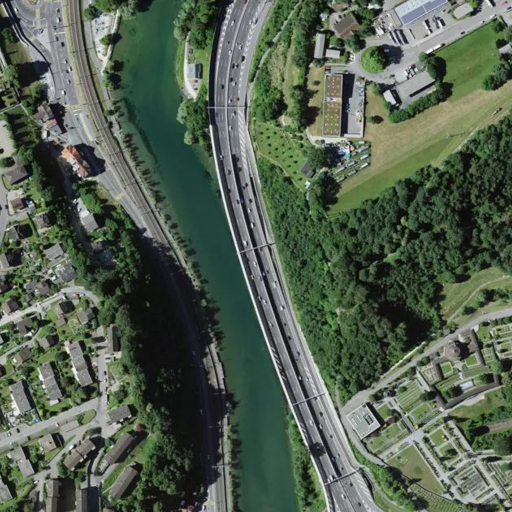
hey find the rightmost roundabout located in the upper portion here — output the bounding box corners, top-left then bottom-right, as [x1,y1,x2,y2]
[354,39,396,82]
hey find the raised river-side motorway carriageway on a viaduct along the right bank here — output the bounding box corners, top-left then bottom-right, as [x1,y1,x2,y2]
[209,0,354,512]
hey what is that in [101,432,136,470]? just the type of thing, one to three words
house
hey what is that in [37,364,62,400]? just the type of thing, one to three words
building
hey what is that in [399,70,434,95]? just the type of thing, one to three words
building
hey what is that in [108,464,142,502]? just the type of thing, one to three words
house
